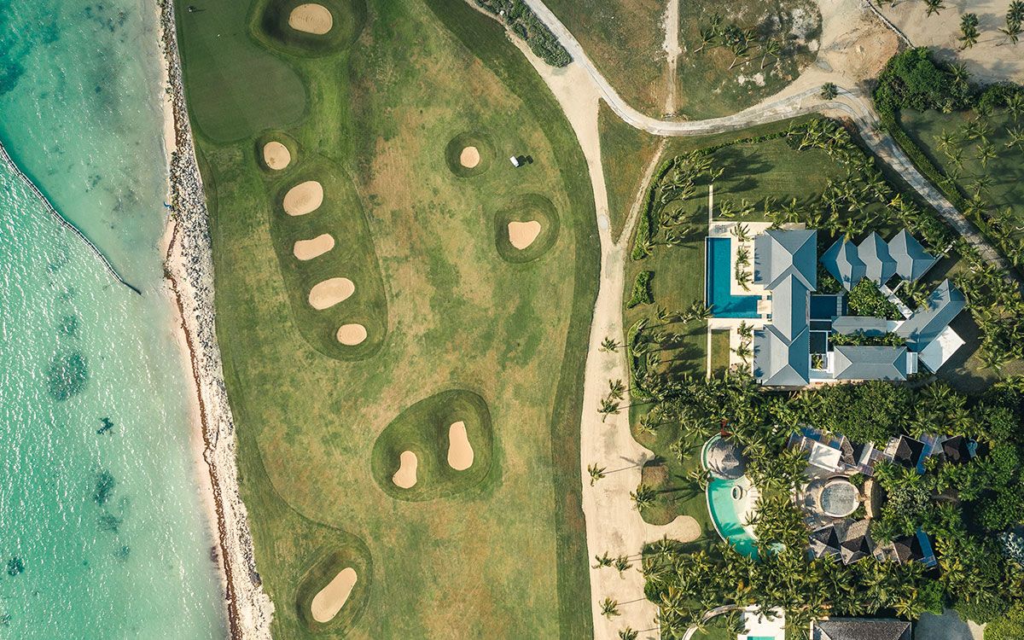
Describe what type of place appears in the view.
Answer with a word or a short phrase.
golf course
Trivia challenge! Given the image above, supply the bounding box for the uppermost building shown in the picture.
[817,228,935,289]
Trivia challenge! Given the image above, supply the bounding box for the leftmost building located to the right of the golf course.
[704,437,745,478]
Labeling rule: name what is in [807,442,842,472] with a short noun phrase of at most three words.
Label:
house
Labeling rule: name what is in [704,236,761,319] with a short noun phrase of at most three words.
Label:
swimming pool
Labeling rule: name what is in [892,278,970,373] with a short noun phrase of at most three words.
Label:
house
